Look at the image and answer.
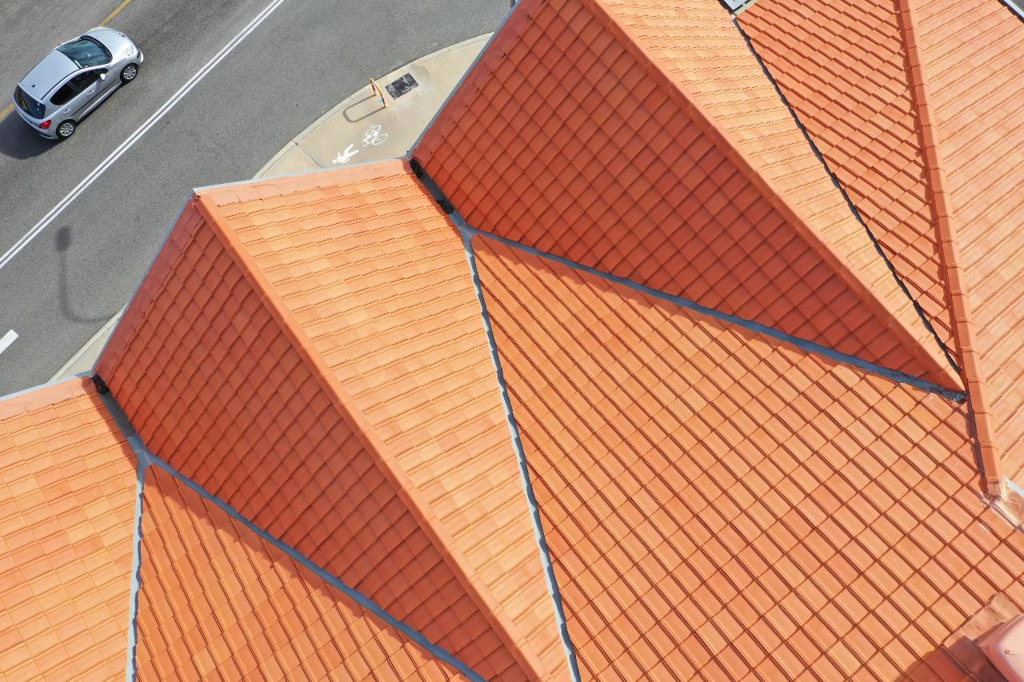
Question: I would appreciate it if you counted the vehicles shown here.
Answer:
one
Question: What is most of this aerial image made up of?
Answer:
buildings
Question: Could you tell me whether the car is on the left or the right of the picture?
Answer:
left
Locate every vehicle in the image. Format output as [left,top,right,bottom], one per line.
[10,25,142,137]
